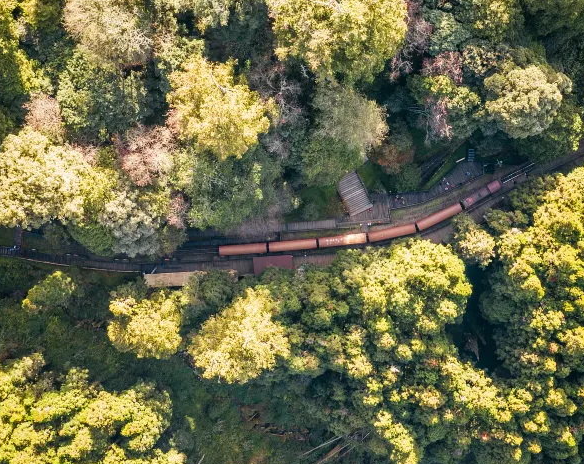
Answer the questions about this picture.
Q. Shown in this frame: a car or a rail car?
rail car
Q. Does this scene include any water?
No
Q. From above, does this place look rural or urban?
rural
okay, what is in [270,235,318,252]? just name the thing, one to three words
rail car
